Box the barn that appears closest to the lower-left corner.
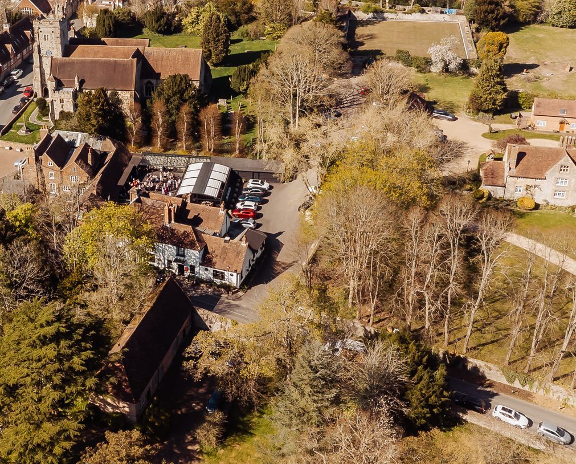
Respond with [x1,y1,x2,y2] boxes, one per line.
[92,274,198,428]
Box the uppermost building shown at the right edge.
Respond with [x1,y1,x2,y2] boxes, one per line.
[516,93,576,132]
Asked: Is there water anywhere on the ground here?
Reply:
No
